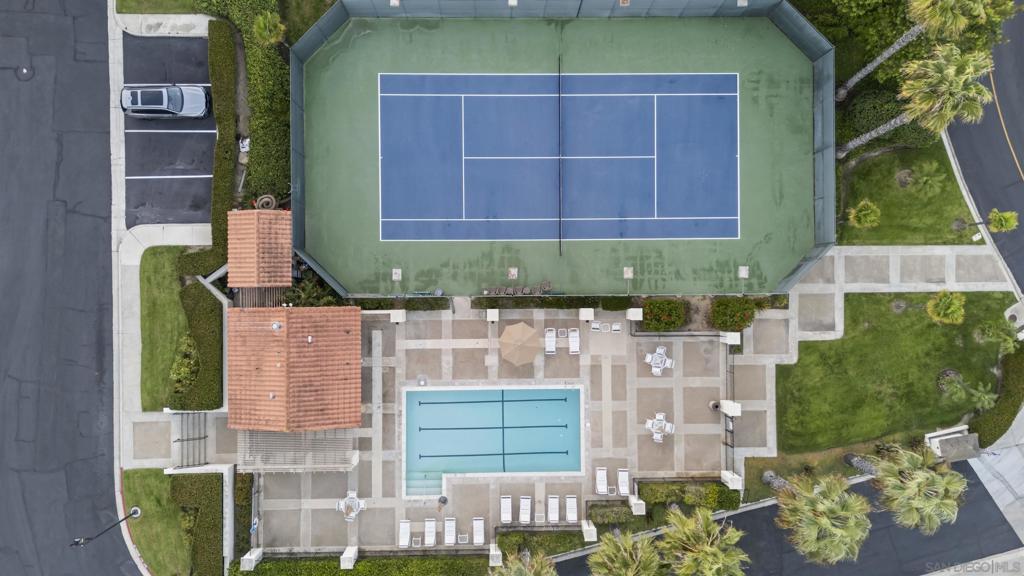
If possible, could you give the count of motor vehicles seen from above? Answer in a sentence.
I count just 1 motor vehicle.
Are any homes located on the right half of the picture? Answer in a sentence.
No, there's no home to be seen on the right half of the picture.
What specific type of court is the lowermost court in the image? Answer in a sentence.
What you see as the lowermost court is a tennis court.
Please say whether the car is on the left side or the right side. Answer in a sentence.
The car is on the left side of the image.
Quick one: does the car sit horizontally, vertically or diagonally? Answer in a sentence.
The car is oriented horizontally.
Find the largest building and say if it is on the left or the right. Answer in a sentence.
You can find the largest building on the left side of the picture.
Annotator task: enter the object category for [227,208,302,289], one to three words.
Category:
house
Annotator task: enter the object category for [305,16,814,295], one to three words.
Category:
tennis court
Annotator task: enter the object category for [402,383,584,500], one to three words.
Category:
swimming pool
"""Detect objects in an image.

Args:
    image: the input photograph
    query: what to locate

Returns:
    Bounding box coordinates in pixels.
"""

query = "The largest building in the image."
[227,303,365,436]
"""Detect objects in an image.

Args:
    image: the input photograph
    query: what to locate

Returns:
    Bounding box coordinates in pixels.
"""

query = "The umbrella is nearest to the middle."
[500,324,539,362]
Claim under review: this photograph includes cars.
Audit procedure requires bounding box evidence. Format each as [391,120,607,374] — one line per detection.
[121,83,214,120]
